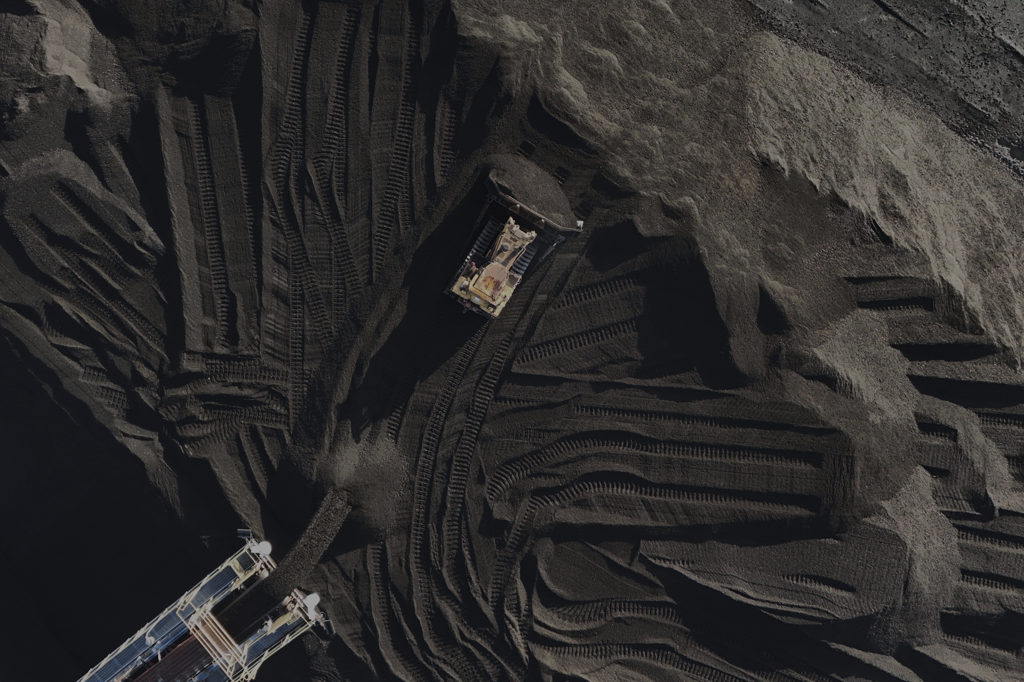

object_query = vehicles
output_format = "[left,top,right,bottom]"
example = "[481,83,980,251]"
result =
[446,169,589,323]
